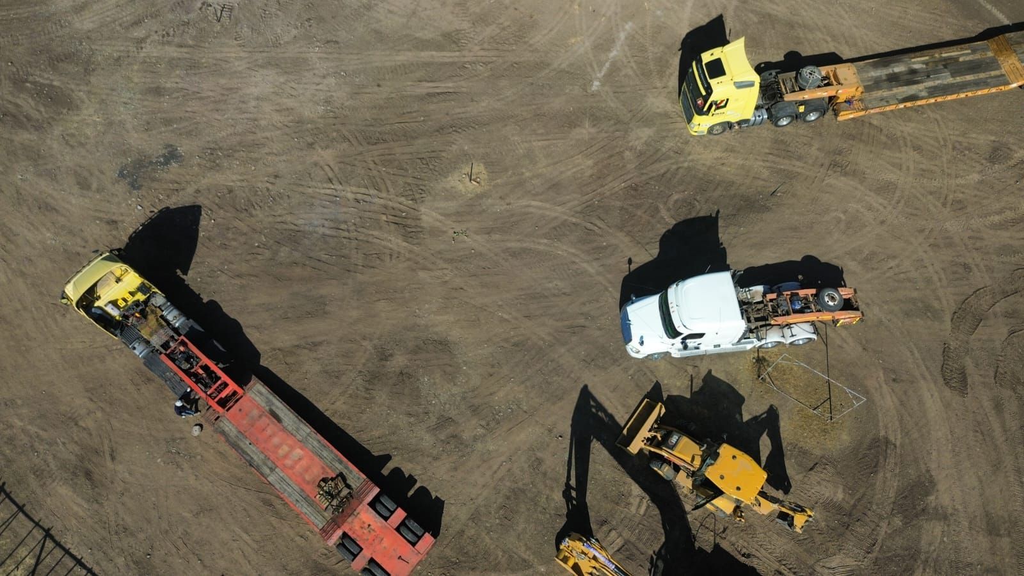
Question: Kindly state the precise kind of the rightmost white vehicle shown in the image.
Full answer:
It turns out the rightmost white vehicle is a truck.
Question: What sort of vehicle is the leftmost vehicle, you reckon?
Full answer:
What you see as the leftmost vehicle is a truck.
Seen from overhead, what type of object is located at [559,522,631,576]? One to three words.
work vehicle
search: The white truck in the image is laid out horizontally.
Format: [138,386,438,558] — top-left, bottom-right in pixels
[620,262,844,358]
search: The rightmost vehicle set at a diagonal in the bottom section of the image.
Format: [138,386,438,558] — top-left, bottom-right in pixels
[614,397,816,536]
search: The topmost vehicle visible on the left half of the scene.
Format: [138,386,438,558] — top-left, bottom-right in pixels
[61,246,237,403]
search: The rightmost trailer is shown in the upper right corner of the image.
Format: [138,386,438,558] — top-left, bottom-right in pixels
[771,36,1024,114]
